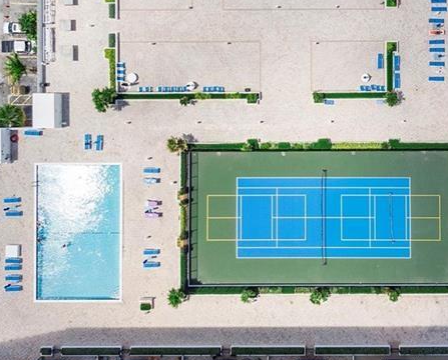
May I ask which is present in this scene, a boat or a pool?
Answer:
pool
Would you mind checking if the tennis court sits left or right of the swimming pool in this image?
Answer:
to the right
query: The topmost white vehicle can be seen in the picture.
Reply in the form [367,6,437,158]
[2,20,21,34]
